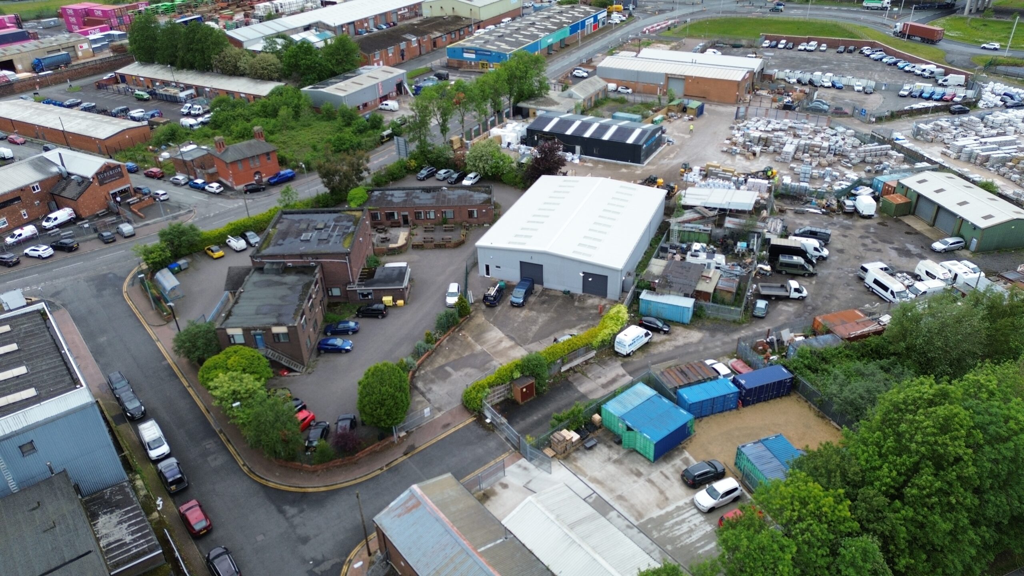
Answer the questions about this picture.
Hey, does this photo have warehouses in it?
Yes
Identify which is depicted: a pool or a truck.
truck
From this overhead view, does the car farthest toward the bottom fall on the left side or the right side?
left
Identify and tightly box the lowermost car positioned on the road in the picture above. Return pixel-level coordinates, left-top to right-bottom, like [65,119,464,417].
[205,545,245,576]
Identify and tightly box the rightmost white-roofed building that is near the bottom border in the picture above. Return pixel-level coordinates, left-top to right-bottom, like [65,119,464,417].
[504,481,672,576]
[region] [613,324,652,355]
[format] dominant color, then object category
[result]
white van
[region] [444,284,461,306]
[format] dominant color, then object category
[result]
white car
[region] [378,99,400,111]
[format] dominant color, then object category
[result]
white vehicle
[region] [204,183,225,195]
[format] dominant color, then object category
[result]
white vehicle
